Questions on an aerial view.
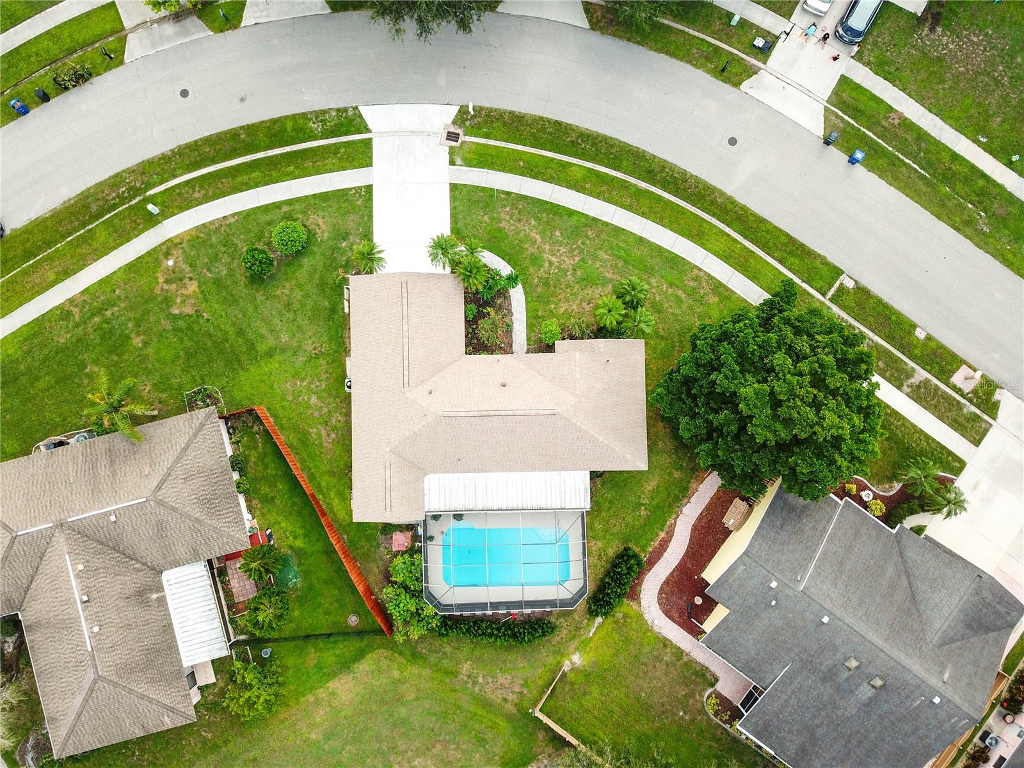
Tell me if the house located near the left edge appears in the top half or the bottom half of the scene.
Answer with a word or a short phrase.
bottom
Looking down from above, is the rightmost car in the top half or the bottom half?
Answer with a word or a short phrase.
top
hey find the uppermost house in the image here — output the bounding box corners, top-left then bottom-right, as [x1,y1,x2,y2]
[349,273,649,523]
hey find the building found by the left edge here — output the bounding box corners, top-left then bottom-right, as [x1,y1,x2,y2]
[0,405,255,759]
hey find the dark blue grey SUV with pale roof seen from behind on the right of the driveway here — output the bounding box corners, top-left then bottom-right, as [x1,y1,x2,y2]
[836,0,888,48]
